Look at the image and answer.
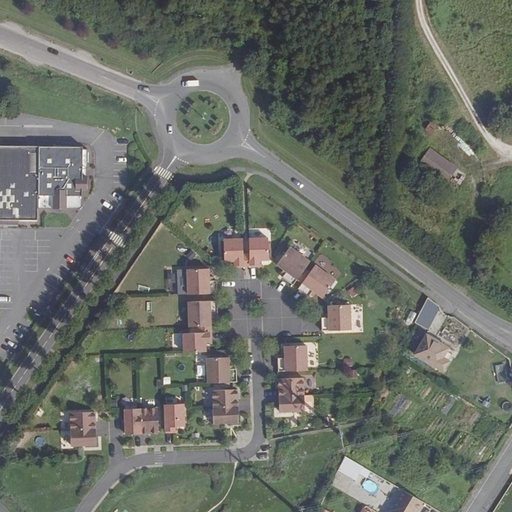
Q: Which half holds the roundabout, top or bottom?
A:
top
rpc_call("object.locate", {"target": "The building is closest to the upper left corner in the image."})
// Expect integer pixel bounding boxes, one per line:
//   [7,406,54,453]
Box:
[0,146,88,225]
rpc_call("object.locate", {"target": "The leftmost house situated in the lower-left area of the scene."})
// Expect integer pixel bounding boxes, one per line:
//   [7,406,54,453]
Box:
[60,412,102,450]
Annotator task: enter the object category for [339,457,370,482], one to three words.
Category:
building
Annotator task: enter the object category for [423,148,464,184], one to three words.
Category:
barn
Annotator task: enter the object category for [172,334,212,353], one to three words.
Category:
house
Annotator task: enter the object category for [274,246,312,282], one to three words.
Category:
house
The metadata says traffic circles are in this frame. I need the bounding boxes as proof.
[138,66,258,173]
